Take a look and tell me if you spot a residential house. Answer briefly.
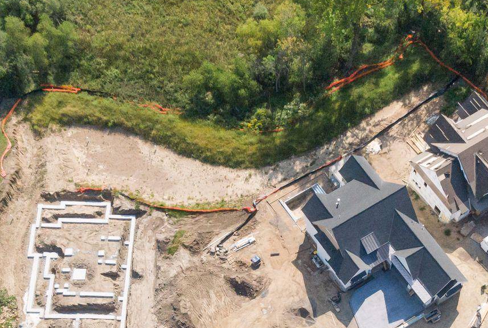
Yes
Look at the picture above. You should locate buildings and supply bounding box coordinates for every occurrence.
[407,90,488,225]
[283,155,468,304]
